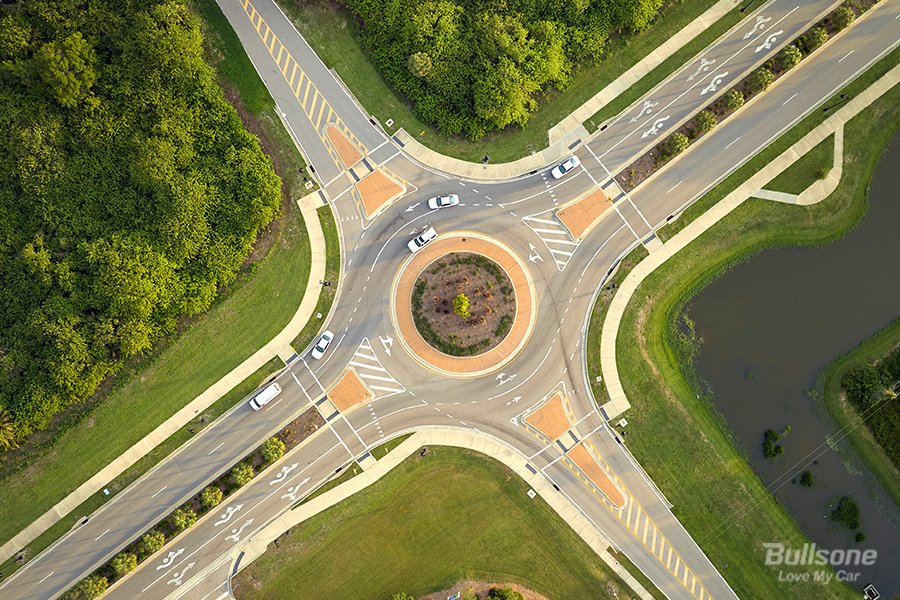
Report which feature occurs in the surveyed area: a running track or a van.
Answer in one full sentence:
Visible in the photo is a van.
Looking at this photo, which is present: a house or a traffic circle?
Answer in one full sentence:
Visible in the photo is a traffic circle.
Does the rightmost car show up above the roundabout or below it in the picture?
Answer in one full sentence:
Looking at the photo, you'll find the rightmost car above the roundabout.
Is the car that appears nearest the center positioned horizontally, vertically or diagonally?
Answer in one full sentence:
Seen from above, the car that appears nearest the center lies diagonally.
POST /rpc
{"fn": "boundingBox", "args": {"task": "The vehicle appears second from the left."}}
[310,329,335,360]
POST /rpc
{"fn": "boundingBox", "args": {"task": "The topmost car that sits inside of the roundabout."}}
[427,193,460,209]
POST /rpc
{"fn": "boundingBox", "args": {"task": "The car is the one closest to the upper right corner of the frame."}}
[550,154,582,180]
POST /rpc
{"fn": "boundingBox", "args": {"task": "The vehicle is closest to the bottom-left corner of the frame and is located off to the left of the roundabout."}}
[249,381,283,412]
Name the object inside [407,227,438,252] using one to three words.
car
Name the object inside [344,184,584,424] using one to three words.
roundabout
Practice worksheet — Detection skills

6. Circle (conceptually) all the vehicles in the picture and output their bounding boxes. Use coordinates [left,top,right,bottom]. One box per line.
[407,227,438,252]
[550,154,582,180]
[249,381,283,412]
[427,193,460,209]
[310,329,335,360]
